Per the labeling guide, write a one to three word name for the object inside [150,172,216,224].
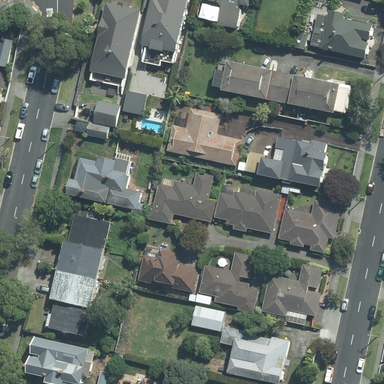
house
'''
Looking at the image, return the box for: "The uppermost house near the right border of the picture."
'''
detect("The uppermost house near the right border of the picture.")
[311,10,377,58]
